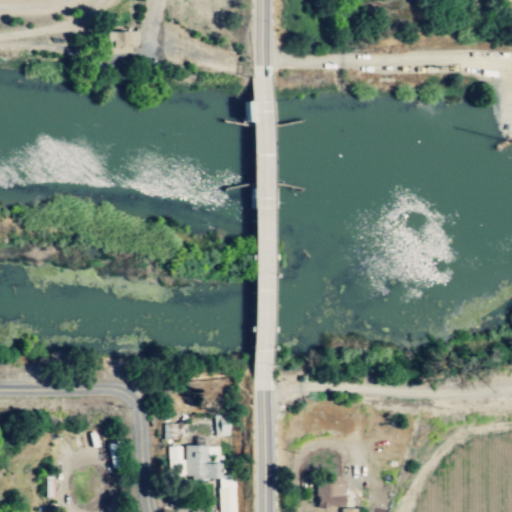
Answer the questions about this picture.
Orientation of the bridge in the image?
up and down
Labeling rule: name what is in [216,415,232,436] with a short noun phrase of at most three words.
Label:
shed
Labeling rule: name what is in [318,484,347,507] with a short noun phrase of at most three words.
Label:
house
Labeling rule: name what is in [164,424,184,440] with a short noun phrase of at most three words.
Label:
shed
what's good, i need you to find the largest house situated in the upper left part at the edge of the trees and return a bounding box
[110,30,140,50]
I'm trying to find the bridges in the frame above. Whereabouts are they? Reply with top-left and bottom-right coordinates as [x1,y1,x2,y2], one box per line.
[247,60,280,390]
